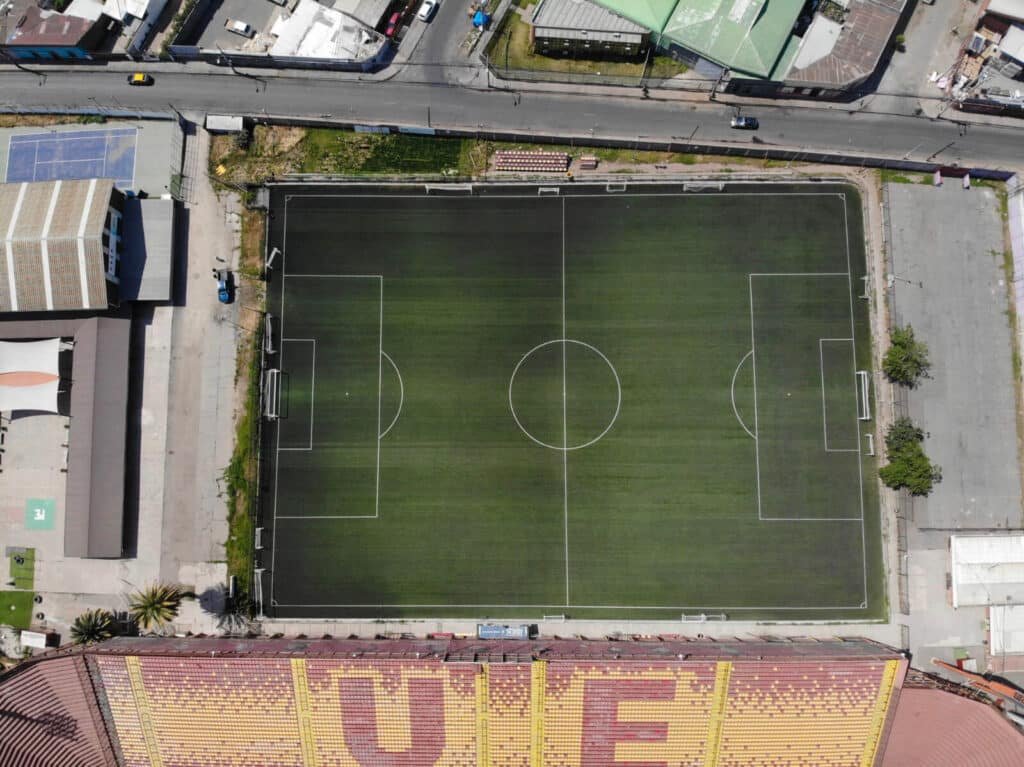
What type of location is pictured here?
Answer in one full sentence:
What you see here is a sports ground.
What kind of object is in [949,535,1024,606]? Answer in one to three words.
shed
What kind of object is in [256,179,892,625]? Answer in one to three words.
soccer field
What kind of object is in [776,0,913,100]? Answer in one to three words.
building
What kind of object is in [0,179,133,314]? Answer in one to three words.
building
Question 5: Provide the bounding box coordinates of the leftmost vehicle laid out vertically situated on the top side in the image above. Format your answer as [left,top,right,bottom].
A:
[216,269,231,301]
